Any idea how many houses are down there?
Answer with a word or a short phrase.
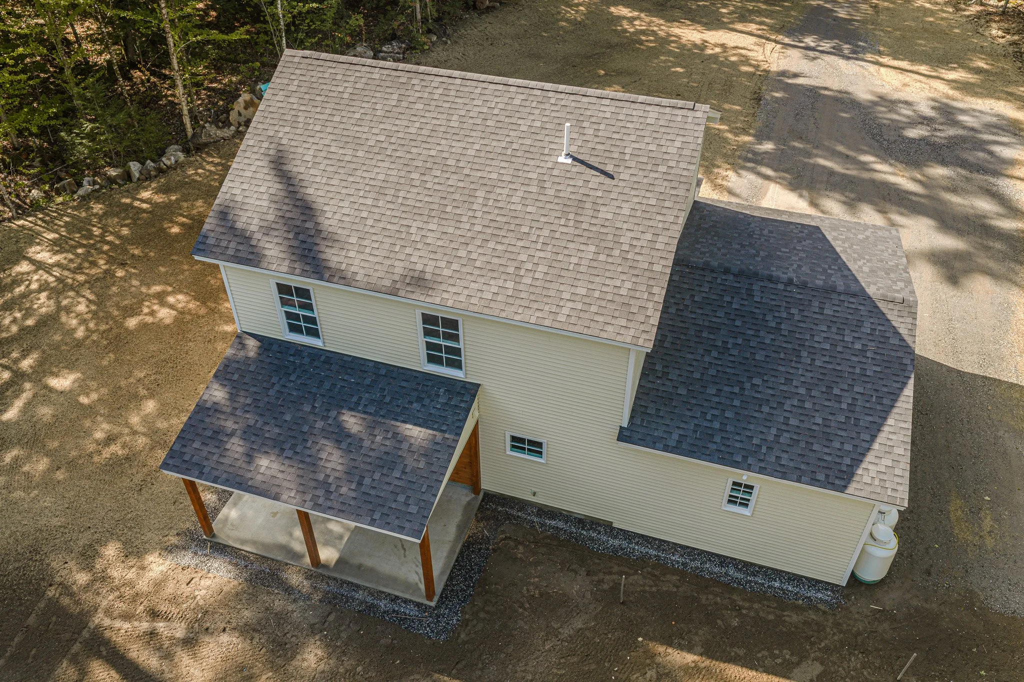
1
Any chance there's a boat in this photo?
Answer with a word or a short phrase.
No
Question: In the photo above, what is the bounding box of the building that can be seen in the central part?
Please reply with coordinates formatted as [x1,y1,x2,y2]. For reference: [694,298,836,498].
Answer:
[159,48,918,609]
